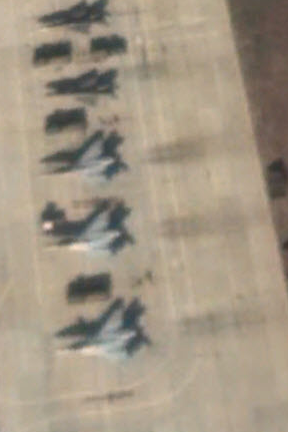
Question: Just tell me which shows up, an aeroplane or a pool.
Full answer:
This aerial view contains an aeroplane.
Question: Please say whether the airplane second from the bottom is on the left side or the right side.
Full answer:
The airplane second from the bottom sits on the left side.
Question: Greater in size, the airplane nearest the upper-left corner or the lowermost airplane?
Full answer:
Of the two, the lowermost airplane is larger and the airplane nearest the upper-left corner is the smaller one.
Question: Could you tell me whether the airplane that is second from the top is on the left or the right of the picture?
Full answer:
It is on the left.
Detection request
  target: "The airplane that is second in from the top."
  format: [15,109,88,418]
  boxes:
[44,73,116,102]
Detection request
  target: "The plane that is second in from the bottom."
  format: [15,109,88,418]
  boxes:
[43,213,136,258]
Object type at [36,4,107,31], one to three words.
airplane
